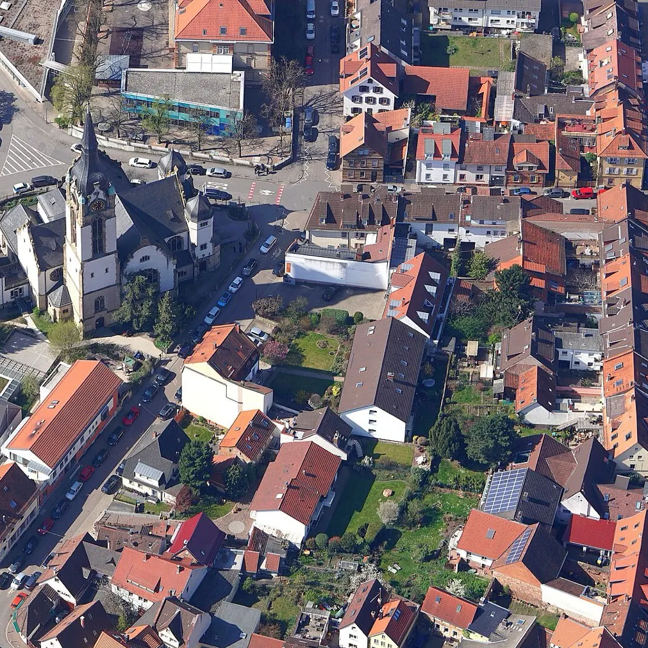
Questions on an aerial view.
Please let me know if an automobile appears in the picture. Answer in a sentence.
Yes, the frame does contain an automobile.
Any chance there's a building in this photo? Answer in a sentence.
Yes, a building is visible in the scene.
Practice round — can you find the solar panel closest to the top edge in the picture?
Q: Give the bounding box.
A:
[486,473,524,515]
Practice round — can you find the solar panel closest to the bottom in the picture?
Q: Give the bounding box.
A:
[503,528,531,560]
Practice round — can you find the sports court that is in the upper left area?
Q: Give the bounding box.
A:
[110,27,143,67]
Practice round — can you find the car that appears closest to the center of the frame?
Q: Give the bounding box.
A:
[321,283,341,300]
